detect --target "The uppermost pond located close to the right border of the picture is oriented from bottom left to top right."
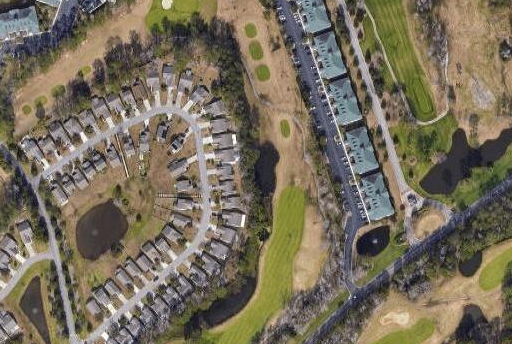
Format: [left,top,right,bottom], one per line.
[420,128,512,196]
